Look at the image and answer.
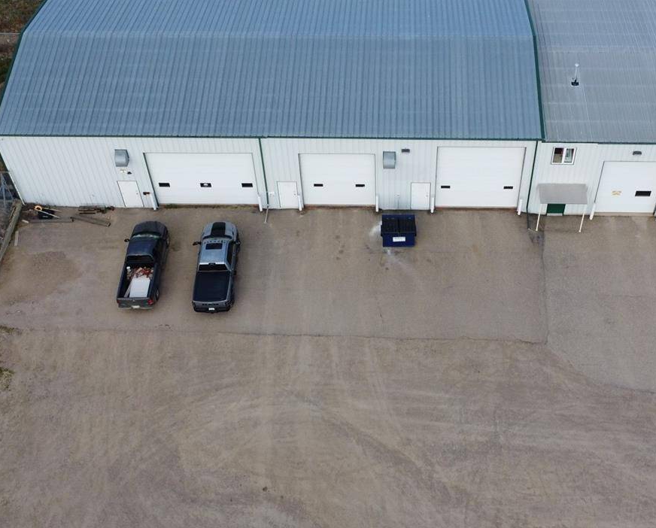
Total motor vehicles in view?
two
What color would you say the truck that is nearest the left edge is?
black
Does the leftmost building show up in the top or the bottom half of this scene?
top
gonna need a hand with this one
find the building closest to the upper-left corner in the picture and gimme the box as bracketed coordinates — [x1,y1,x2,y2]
[0,0,543,227]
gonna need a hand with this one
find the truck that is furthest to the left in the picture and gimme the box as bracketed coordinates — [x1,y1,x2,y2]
[113,219,170,310]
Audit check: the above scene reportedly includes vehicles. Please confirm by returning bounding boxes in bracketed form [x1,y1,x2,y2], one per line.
[113,219,170,310]
[190,220,240,313]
